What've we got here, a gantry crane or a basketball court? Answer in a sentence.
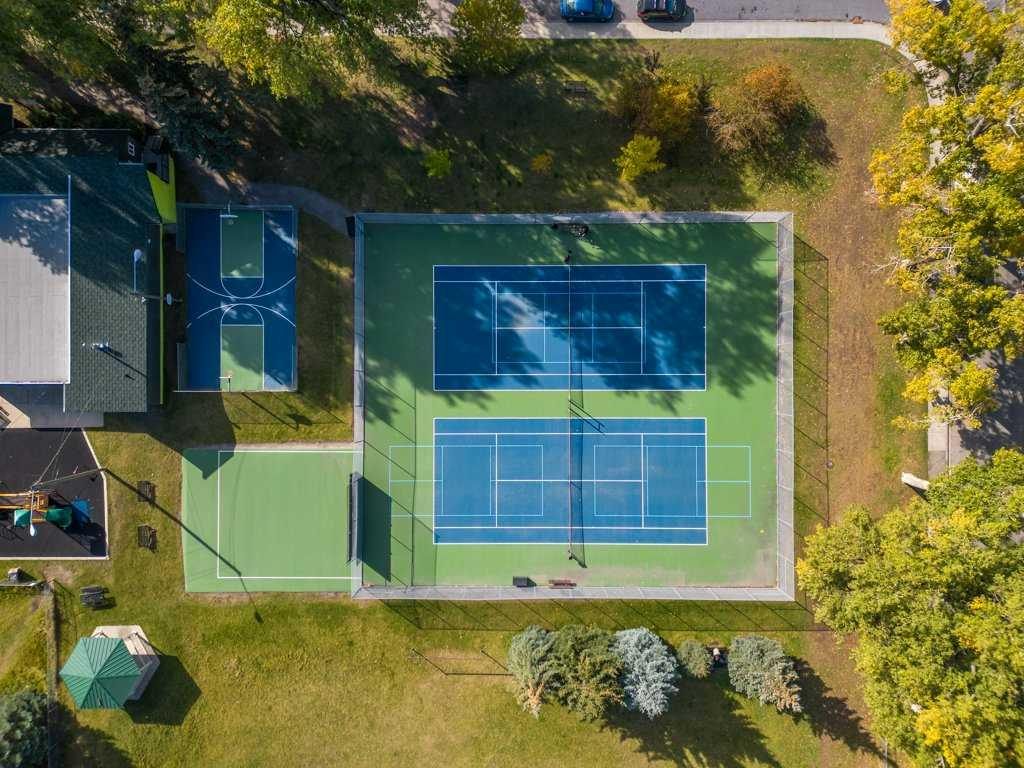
Visible in the photo is a basketball court.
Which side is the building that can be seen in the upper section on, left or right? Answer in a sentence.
It is on the left.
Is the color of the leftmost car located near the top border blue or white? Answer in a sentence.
From above, the leftmost car located near the top border appears blue.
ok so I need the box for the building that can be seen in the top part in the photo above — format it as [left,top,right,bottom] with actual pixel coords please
[0,104,188,412]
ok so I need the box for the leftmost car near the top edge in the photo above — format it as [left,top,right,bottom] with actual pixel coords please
[560,0,613,23]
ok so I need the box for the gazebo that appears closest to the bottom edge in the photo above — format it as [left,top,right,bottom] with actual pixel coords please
[57,627,159,712]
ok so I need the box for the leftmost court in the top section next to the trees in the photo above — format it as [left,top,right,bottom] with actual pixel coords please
[184,207,297,391]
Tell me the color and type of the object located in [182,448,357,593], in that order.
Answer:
green sports court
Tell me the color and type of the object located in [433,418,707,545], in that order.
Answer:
blue tennis court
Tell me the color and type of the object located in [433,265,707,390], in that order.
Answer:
blue tennis court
